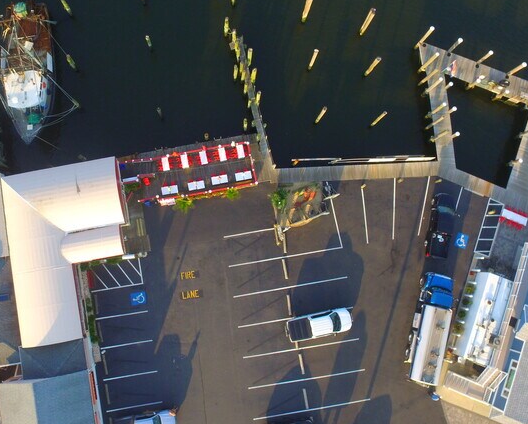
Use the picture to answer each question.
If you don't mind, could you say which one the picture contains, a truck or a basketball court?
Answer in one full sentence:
Looking from above, you can make out a truck.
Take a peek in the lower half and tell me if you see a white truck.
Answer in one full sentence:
Yes, in the lower half there is a white truck.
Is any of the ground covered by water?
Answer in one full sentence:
Yes, water can be seen from above here.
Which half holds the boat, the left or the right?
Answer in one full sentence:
You can find the boat on the left side of the picture.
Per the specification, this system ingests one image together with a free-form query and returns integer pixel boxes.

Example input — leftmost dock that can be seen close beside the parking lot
[237,36,274,168]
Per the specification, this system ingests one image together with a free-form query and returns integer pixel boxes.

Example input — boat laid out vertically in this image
[0,5,59,144]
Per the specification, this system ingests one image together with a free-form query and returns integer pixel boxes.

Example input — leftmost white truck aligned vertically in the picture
[407,272,458,384]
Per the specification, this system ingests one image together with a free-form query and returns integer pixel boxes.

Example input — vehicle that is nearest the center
[285,309,353,344]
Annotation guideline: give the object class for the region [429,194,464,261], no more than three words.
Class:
truck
